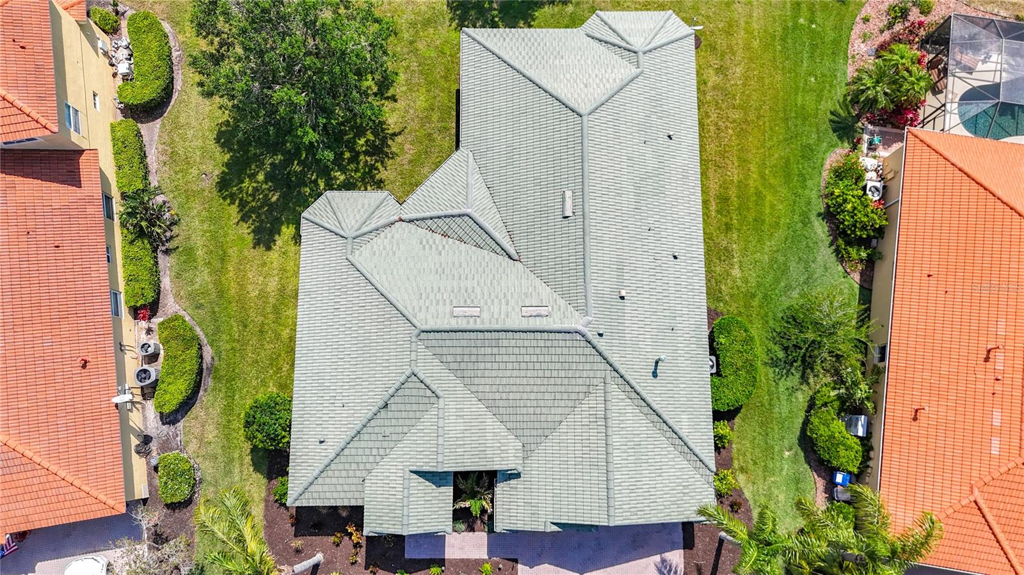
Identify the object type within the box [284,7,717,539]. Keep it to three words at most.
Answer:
house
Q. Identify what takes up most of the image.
buildings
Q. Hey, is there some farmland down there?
No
